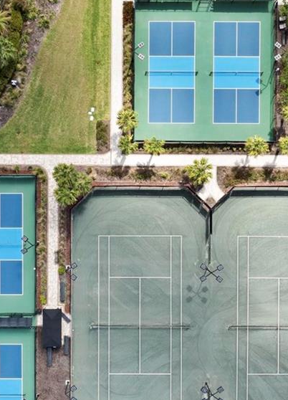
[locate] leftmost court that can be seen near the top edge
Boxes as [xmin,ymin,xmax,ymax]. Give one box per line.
[134,0,205,141]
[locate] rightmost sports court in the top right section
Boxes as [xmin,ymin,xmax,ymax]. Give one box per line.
[205,0,276,141]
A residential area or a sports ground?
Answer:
sports ground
